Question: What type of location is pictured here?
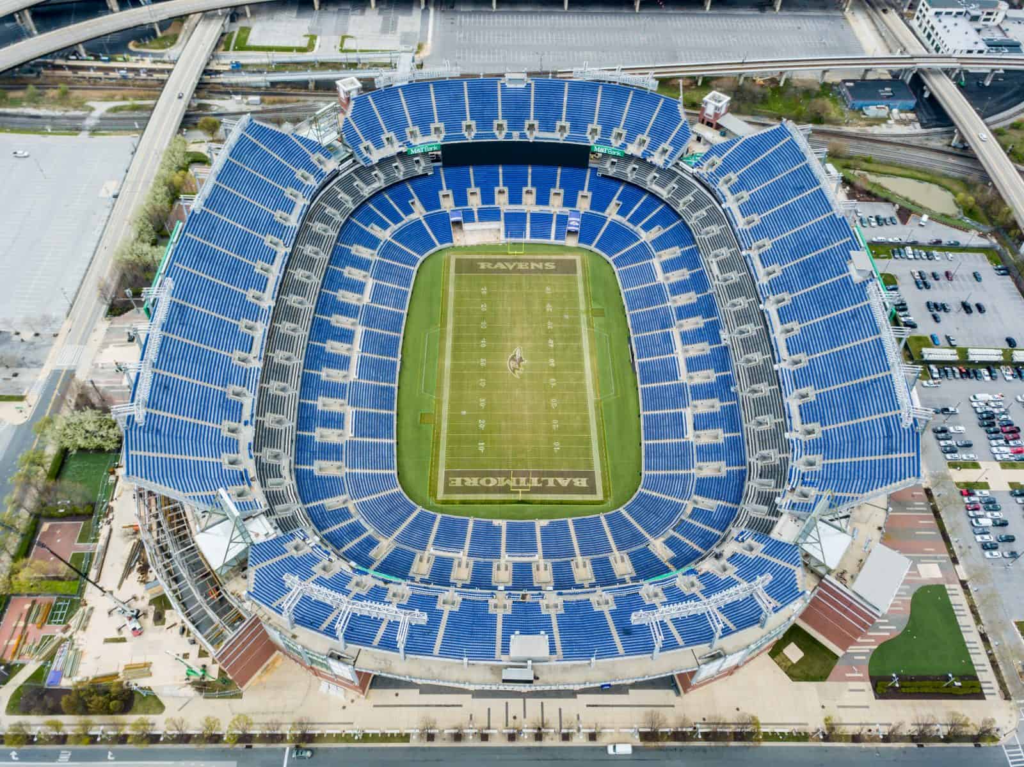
sports ground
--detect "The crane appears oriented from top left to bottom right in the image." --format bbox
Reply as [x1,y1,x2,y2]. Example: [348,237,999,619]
[34,539,156,638]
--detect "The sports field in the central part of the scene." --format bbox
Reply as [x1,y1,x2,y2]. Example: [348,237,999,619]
[395,241,643,519]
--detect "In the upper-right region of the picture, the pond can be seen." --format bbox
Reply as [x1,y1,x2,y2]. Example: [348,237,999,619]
[857,169,959,215]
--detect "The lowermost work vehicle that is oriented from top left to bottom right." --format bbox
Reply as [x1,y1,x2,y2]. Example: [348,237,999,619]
[165,648,210,679]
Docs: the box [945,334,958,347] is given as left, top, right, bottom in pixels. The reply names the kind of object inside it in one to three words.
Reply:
vehicle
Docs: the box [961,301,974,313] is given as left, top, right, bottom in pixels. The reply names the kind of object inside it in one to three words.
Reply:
vehicle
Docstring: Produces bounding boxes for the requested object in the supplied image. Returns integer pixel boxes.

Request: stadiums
[122,75,923,693]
